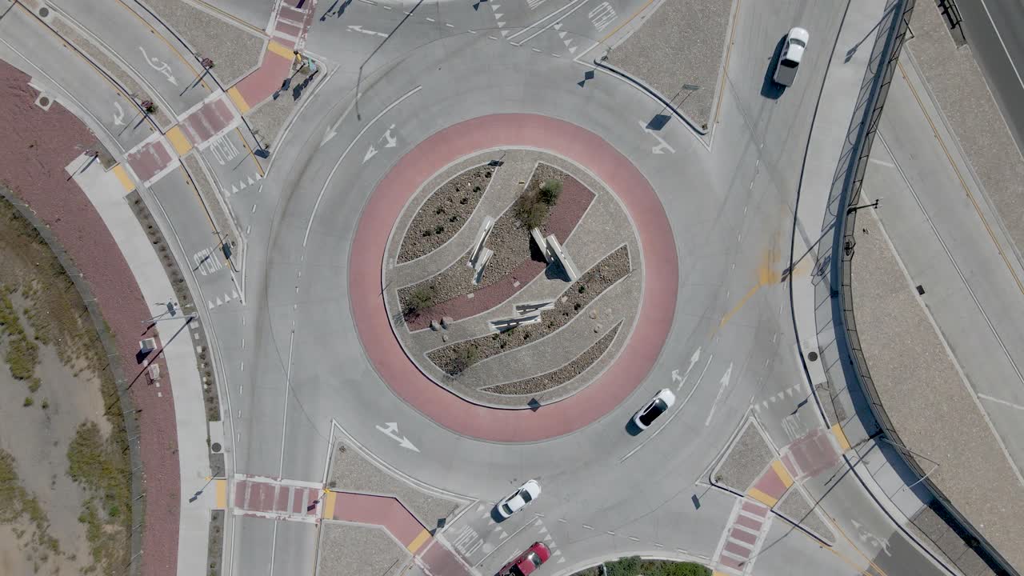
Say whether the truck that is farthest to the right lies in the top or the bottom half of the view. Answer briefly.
top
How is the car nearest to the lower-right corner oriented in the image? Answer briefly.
diagonally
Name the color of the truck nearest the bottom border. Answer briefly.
red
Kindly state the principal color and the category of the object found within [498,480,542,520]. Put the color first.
white car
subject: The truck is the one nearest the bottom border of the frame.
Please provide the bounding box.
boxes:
[495,542,552,576]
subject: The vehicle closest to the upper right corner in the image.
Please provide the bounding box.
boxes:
[771,27,808,90]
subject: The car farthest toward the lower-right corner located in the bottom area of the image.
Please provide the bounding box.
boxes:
[635,389,678,432]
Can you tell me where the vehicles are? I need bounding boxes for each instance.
[498,480,542,520]
[635,389,678,432]
[495,542,552,576]
[771,27,808,90]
